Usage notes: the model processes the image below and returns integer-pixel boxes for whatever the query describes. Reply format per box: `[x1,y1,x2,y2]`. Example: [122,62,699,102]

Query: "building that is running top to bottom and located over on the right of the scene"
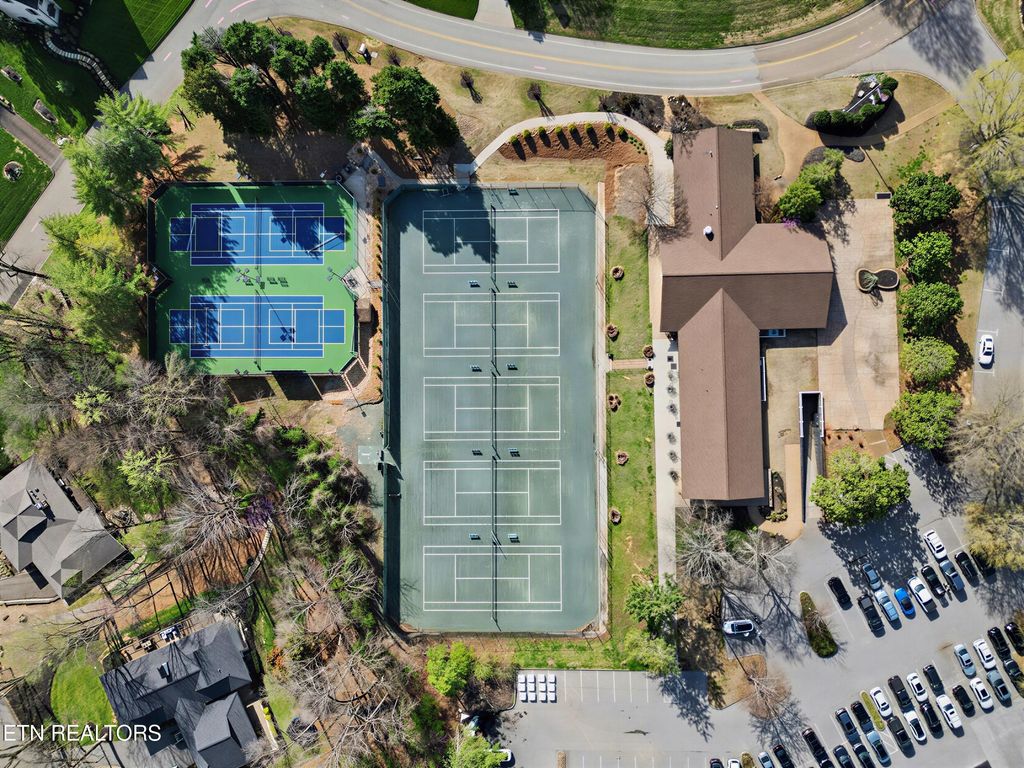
[660,126,834,500]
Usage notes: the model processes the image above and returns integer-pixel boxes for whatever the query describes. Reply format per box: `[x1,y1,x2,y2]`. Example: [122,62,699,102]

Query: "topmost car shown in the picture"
[977,336,993,365]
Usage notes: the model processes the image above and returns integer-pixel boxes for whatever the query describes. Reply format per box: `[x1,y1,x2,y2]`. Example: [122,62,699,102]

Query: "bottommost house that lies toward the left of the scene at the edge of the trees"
[99,613,264,768]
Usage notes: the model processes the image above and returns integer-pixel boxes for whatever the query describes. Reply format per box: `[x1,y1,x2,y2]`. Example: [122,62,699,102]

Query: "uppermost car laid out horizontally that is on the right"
[724,620,753,634]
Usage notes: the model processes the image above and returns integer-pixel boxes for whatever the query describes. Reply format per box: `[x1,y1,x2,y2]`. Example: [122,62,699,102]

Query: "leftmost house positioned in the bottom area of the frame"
[0,455,133,600]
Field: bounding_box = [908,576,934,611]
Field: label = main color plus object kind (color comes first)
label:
white car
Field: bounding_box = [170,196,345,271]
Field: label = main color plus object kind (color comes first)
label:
blue tennis court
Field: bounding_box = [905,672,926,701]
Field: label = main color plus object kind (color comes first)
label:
white car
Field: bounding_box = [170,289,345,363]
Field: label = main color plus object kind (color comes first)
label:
blue tennis court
